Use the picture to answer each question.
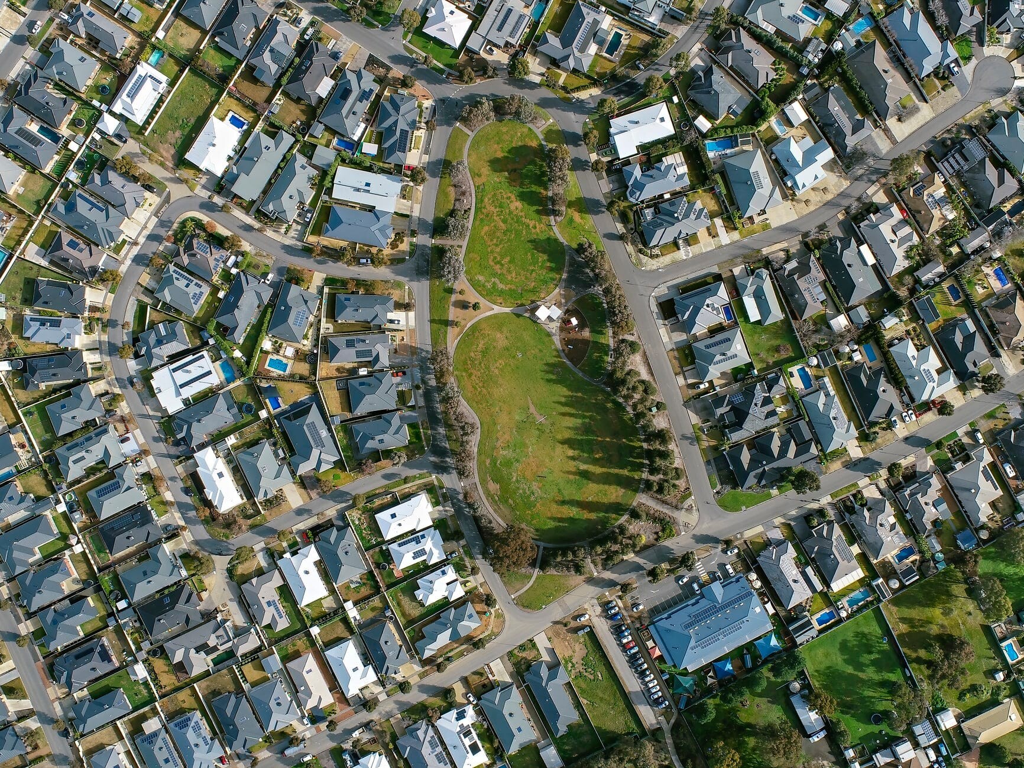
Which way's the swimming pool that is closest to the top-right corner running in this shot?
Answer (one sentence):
The swimming pool that is closest to the top-right corner runs on a diagonal in the image.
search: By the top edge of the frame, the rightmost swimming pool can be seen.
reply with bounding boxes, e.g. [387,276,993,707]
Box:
[850,14,875,36]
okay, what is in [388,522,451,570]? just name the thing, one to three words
house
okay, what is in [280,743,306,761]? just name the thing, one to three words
vehicle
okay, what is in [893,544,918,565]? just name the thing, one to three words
swimming pool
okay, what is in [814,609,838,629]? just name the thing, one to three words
swimming pool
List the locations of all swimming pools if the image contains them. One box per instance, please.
[210,650,235,669]
[266,356,290,375]
[722,305,735,323]
[0,469,15,483]
[603,30,626,59]
[850,14,875,36]
[333,137,356,153]
[35,123,63,145]
[0,248,9,265]
[893,544,918,565]
[992,265,1010,288]
[845,587,872,610]
[148,48,164,68]
[947,283,963,302]
[218,359,239,386]
[772,117,787,135]
[226,116,246,131]
[814,609,838,629]
[1003,641,1017,657]
[861,342,874,359]
[796,366,814,391]
[529,0,548,23]
[267,396,280,411]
